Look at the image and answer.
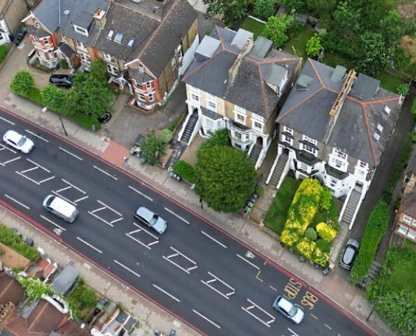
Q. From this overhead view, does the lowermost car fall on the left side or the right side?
right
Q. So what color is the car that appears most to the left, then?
white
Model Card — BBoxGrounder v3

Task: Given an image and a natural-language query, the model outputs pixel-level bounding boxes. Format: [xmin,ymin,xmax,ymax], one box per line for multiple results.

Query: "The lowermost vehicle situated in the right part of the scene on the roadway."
[271,295,305,324]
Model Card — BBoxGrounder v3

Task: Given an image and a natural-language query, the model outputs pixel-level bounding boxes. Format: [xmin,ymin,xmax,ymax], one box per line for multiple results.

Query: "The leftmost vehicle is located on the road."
[1,131,34,154]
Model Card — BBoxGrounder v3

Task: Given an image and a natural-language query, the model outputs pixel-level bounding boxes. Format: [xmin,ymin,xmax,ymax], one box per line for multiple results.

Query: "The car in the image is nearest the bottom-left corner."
[43,196,80,223]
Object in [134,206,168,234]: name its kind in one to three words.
car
